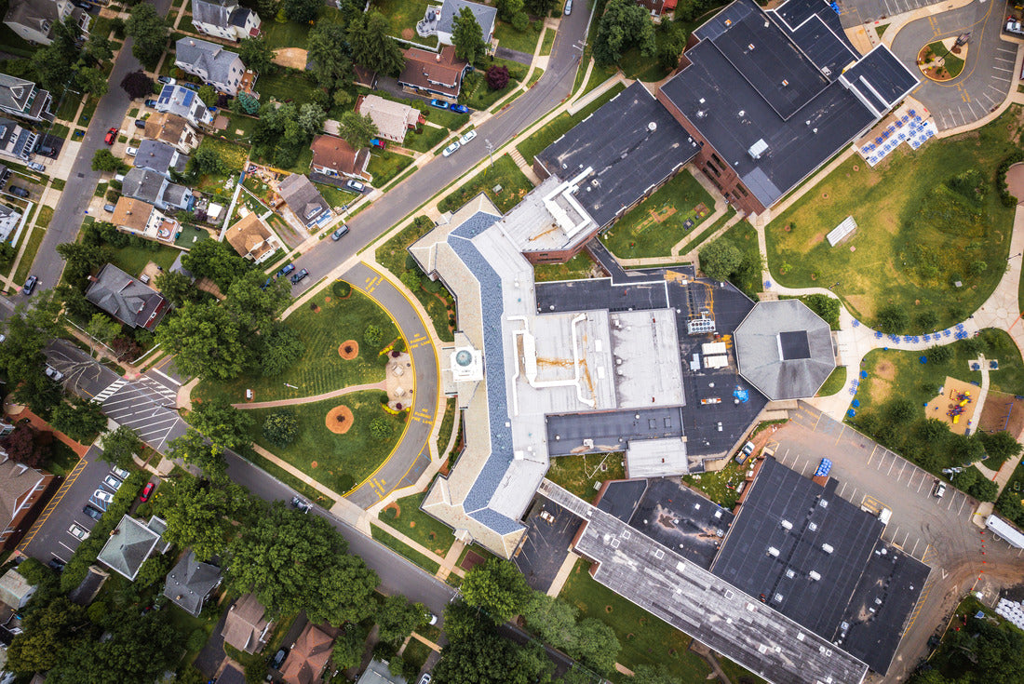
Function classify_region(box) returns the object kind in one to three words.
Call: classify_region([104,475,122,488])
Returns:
vehicle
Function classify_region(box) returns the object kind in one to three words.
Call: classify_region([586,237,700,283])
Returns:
building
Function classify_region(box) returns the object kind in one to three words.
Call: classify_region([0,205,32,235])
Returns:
house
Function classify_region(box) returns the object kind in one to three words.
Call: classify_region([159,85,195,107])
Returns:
solar panel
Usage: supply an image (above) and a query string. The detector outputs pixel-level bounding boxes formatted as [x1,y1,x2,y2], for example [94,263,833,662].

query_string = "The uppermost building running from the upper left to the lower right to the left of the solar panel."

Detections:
[0,69,60,125]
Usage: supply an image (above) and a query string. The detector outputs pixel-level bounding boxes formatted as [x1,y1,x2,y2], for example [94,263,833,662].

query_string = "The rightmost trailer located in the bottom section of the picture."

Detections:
[974,511,1024,552]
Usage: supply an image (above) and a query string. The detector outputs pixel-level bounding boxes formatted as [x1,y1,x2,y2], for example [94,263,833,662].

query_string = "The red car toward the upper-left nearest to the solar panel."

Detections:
[103,127,119,146]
